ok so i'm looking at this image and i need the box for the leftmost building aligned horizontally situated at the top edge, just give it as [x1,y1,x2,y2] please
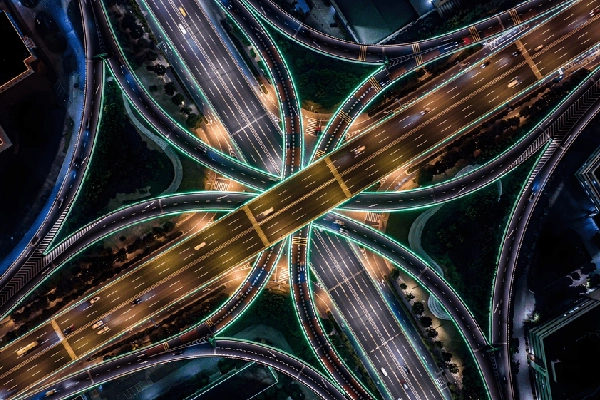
[335,0,438,46]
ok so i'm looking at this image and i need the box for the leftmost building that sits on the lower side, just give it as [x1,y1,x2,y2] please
[187,358,281,400]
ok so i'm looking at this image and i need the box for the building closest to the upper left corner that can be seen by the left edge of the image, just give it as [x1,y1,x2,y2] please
[0,0,47,108]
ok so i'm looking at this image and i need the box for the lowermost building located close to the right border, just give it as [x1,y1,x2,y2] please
[526,288,600,400]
